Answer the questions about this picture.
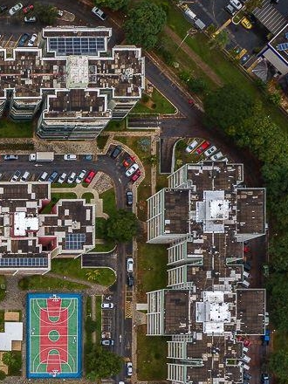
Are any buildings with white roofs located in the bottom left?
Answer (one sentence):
Yes, a building with a white roof is visible in the bottom left.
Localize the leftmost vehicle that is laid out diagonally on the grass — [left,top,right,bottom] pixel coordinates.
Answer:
[109,141,122,157]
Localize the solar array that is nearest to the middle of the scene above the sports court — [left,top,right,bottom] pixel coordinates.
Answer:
[65,233,85,249]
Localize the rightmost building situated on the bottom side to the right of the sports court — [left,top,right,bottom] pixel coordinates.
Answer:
[143,160,265,384]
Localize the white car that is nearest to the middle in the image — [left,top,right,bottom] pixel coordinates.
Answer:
[125,163,139,177]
